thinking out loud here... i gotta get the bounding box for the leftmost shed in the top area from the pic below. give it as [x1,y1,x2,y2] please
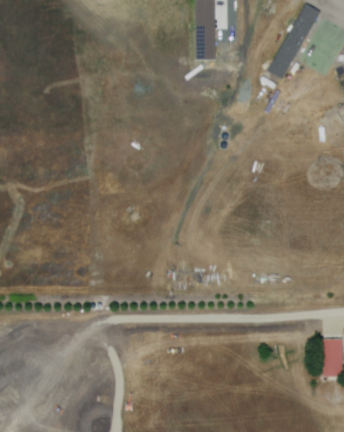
[197,0,218,59]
